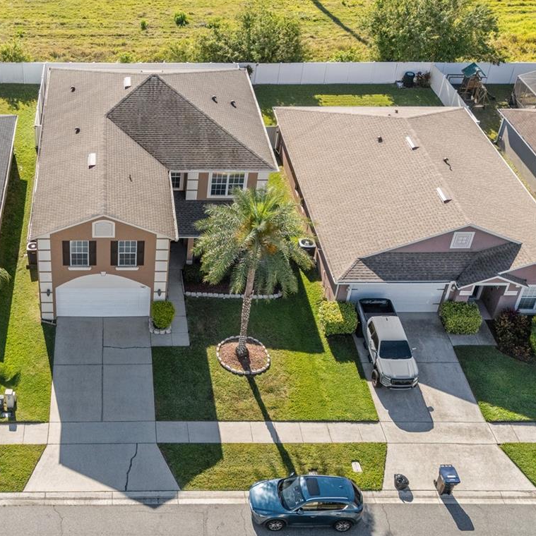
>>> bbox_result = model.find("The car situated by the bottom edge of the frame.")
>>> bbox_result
[248,475,369,536]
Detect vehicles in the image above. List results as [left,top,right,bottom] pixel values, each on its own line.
[356,298,427,394]
[248,475,369,536]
